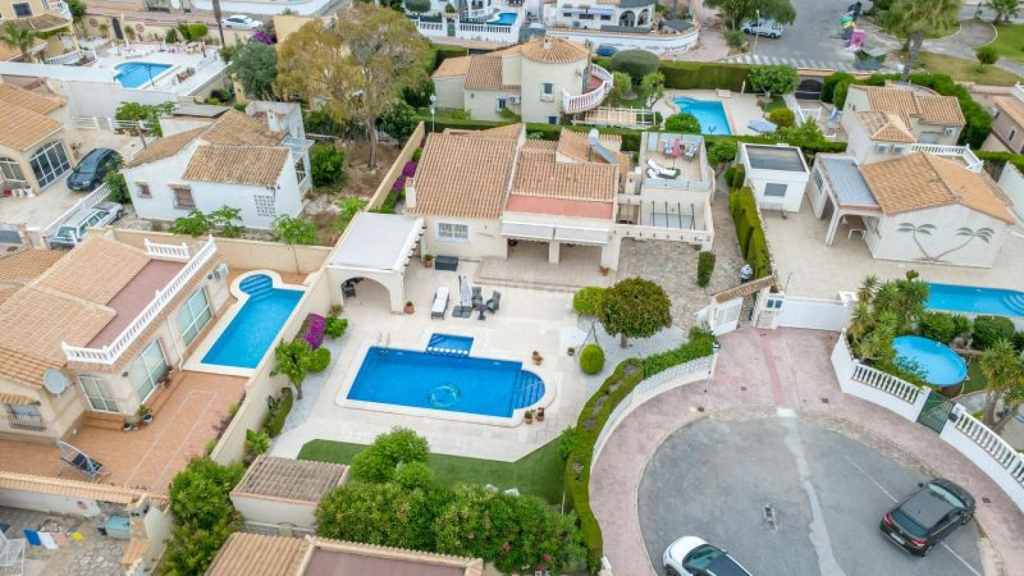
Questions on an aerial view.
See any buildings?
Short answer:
Yes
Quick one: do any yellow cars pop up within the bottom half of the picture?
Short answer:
No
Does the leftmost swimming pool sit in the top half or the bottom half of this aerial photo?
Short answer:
top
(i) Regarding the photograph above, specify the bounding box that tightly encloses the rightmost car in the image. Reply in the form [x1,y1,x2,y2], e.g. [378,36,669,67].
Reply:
[883,477,977,557]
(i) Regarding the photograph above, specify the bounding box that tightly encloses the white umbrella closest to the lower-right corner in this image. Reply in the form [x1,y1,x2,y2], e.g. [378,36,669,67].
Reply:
[556,323,600,356]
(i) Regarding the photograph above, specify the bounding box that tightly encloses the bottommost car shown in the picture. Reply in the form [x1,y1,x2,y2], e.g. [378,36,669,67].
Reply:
[662,536,761,576]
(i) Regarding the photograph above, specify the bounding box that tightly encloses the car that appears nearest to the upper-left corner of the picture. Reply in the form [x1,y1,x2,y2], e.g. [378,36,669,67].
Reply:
[71,145,125,186]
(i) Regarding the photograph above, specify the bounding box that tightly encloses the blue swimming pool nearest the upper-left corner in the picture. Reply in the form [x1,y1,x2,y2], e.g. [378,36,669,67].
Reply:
[108,61,179,89]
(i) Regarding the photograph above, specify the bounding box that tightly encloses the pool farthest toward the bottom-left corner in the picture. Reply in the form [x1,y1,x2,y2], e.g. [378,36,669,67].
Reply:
[182,270,311,377]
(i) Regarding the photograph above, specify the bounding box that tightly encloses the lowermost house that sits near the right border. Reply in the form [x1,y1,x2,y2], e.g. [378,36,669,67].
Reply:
[805,149,1018,268]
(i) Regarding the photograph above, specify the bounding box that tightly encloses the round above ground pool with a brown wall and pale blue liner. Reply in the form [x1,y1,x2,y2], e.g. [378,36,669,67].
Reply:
[878,334,976,406]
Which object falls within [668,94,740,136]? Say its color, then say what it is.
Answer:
blue swimming pool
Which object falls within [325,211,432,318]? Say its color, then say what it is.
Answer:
white gazebo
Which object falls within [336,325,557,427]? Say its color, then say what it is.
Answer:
blue swimming pool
